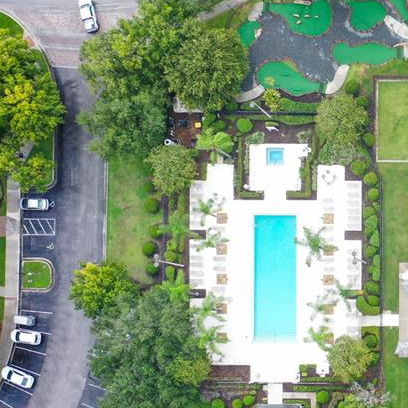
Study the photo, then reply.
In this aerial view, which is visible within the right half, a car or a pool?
pool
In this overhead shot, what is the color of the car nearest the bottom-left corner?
white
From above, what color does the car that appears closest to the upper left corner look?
white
